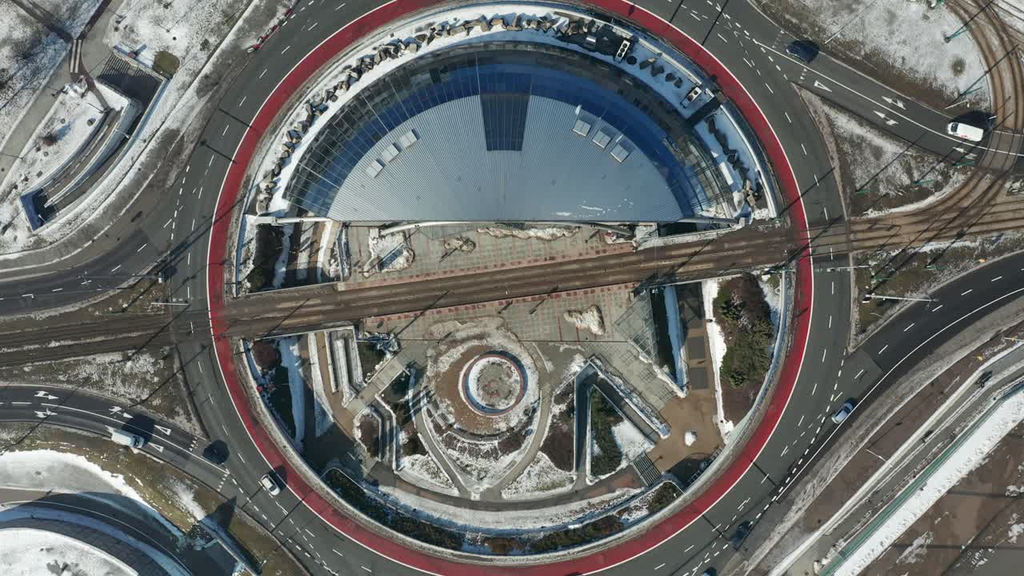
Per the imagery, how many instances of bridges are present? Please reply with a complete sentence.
There is 1 bridge in the image.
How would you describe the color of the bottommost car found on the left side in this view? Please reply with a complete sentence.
In this view, the bottommost car found on the left side is white.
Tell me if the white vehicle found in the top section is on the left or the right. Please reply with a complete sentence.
The white vehicle found in the top section is on the right side of the image.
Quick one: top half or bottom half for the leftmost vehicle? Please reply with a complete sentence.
The leftmost vehicle sits in the bottom half of the picture.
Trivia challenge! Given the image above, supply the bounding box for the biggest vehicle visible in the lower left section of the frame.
[107,428,146,448]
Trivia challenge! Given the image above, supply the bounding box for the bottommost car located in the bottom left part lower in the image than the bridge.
[259,474,280,496]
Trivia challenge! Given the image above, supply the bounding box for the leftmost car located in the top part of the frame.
[788,43,815,62]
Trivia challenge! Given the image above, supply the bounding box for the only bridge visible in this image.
[227,228,800,338]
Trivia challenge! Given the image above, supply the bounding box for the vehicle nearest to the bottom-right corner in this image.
[832,401,854,424]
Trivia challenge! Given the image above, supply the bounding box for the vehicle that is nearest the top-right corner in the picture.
[948,121,989,142]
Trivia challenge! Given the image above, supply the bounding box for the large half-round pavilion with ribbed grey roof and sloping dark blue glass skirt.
[252,41,746,244]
